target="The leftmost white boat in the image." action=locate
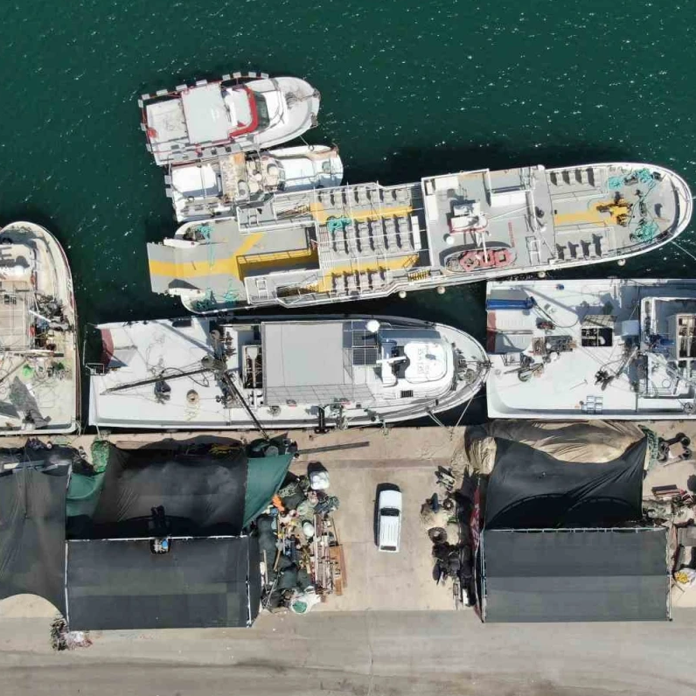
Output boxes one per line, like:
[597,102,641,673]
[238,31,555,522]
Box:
[0,221,89,434]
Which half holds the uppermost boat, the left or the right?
left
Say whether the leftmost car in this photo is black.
No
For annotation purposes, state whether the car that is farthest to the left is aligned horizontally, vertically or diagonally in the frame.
vertically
